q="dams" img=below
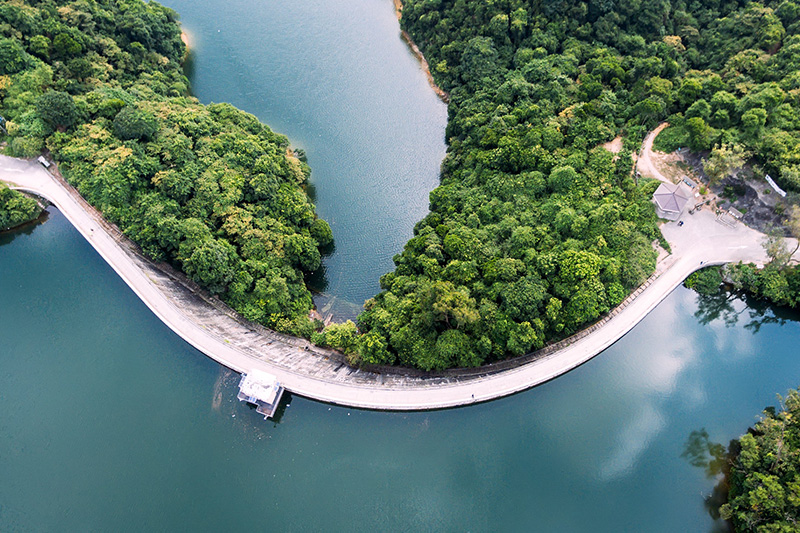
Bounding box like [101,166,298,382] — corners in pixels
[48,194,682,410]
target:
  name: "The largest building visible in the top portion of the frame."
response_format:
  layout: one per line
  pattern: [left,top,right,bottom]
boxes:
[646,184,690,220]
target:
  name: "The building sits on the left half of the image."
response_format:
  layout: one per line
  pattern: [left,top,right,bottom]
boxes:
[235,368,284,417]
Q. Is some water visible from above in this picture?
Yes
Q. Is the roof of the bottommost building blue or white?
white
